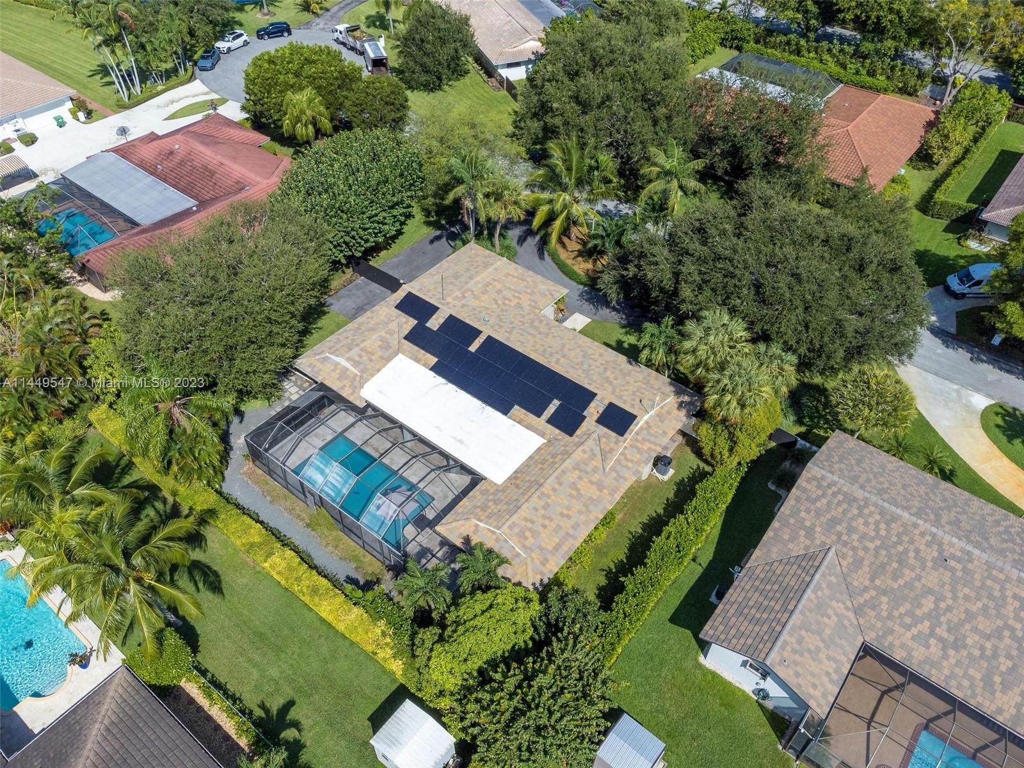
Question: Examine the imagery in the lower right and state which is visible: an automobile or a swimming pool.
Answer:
swimming pool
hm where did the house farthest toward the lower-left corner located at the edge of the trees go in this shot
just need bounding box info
[0,662,225,768]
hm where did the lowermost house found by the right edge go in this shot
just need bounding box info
[699,428,1024,738]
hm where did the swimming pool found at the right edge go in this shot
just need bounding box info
[895,724,994,768]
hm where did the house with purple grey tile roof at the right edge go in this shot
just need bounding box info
[979,152,1024,252]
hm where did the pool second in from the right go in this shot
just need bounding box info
[291,432,436,556]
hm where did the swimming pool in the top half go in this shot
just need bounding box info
[45,205,120,252]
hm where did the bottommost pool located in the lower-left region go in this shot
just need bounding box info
[0,549,94,703]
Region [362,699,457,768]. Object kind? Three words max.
shed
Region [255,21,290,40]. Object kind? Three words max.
car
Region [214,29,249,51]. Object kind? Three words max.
car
